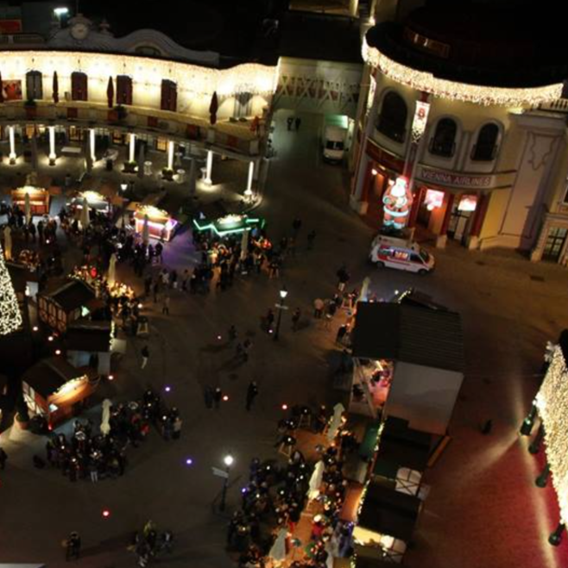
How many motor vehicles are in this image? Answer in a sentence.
My tally gives 2 motor vehicles in this view.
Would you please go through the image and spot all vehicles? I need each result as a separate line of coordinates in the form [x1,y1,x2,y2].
[315,118,349,165]
[369,230,446,276]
